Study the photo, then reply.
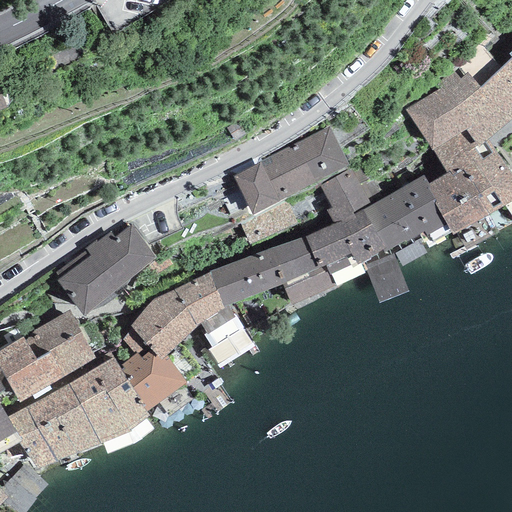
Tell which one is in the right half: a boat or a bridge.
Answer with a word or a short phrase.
boat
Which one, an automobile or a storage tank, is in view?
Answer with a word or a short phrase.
automobile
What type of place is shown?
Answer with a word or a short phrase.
residential area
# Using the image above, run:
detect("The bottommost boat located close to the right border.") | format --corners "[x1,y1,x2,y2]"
[464,254,494,275]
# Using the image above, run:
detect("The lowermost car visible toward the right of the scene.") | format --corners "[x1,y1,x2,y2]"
[300,93,322,112]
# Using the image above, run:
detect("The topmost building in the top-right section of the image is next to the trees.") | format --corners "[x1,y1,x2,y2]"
[406,58,512,148]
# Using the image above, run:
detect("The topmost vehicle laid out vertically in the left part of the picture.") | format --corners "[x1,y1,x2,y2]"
[154,210,168,234]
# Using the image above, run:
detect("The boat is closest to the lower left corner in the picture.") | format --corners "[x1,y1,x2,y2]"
[66,459,90,471]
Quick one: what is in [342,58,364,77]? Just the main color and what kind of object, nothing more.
white car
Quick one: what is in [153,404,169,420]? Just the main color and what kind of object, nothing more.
white umbrella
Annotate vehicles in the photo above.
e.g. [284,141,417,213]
[154,210,168,234]
[342,58,364,77]
[68,216,91,234]
[123,0,146,12]
[300,93,322,112]
[94,202,118,218]
[47,234,68,250]
[362,39,383,58]
[396,0,416,18]
[1,264,23,279]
